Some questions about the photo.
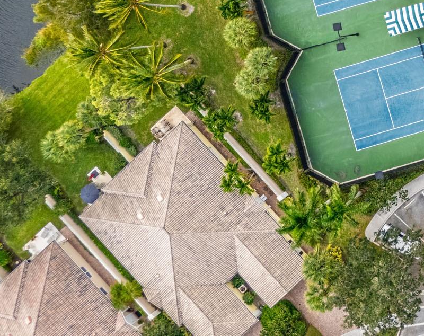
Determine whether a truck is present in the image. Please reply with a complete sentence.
No, this view has no truck in it.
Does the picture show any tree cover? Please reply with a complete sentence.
Yes, there's tree cover in this view.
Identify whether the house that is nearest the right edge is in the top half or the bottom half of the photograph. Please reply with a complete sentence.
The house that is nearest the right edge is in the bottom half of the image.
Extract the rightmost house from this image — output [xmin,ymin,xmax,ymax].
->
[78,121,308,336]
